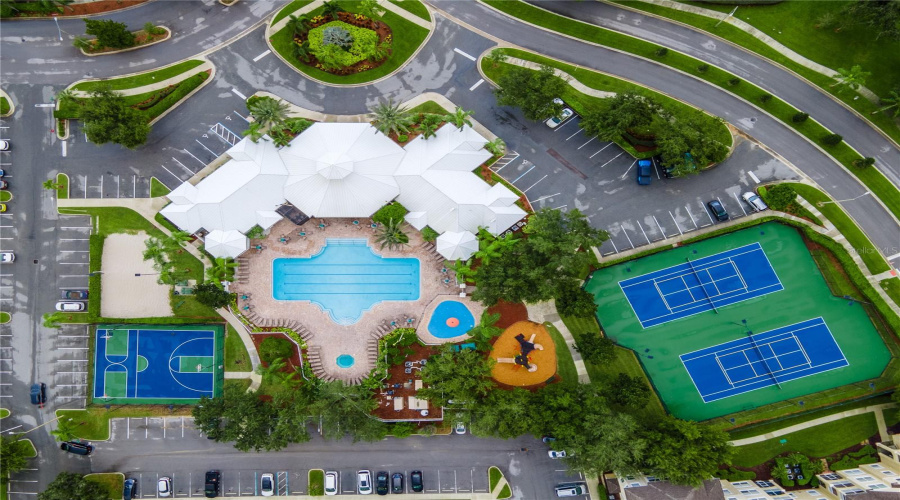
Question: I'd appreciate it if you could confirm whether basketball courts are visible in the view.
Yes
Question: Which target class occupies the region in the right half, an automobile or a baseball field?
automobile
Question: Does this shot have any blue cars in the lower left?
Yes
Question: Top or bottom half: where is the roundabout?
top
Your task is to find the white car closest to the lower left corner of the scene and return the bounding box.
[157,475,172,496]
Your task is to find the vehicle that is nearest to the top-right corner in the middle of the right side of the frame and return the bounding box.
[743,189,764,214]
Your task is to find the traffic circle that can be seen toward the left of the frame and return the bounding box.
[262,0,438,87]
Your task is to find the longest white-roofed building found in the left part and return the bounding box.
[159,122,527,237]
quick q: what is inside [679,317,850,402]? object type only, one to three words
tennis court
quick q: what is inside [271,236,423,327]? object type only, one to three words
swimming pool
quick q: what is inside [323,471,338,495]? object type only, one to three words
car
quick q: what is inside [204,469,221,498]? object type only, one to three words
vehicle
